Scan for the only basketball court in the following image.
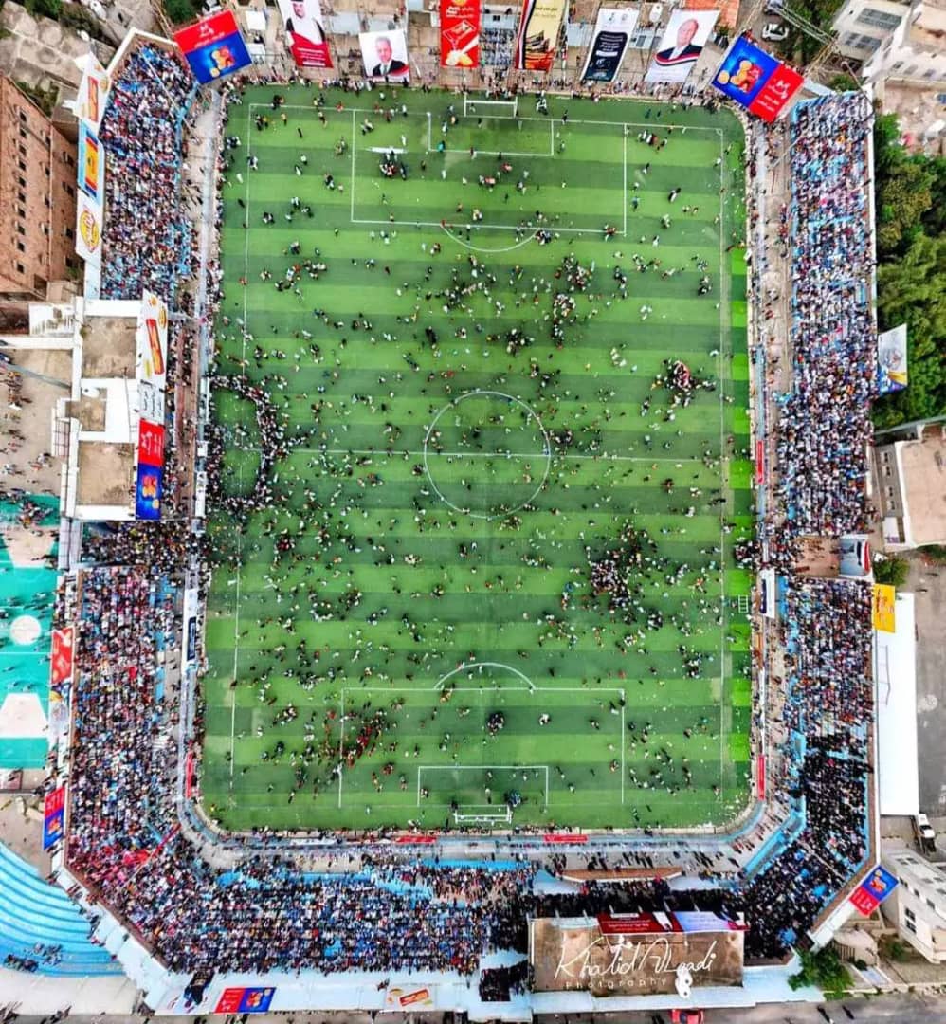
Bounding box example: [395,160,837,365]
[0,493,60,768]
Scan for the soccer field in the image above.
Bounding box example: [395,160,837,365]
[200,85,752,832]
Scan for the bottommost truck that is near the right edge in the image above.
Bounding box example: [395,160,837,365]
[915,813,945,855]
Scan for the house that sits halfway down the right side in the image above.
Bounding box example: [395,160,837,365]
[865,425,946,552]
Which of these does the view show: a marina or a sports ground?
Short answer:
sports ground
